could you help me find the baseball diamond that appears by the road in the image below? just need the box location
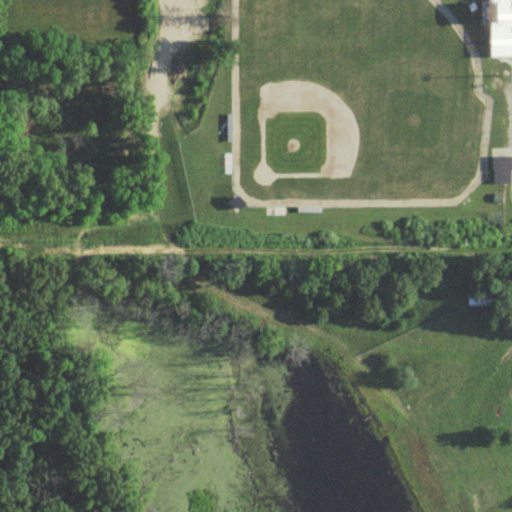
[231,0,494,208]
